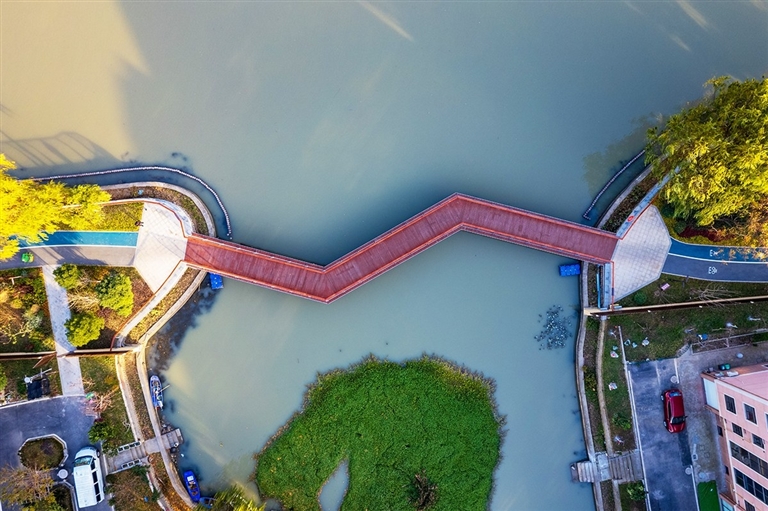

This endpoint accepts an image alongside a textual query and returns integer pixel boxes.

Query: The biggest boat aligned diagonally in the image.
[184,471,203,502]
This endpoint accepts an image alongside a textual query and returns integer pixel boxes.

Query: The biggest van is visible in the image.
[72,446,106,509]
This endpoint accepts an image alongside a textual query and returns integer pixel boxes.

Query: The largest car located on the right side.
[662,389,690,433]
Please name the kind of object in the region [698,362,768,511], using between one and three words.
building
